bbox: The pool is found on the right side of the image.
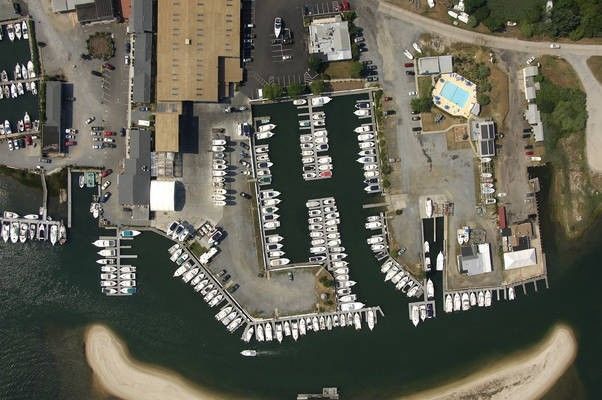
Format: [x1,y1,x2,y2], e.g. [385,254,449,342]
[433,72,477,119]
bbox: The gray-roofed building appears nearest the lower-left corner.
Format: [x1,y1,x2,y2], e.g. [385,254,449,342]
[122,205,149,225]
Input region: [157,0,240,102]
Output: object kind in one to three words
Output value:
shed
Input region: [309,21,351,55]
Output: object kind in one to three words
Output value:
building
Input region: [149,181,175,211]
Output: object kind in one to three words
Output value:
tent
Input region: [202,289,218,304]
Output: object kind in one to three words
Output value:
boat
